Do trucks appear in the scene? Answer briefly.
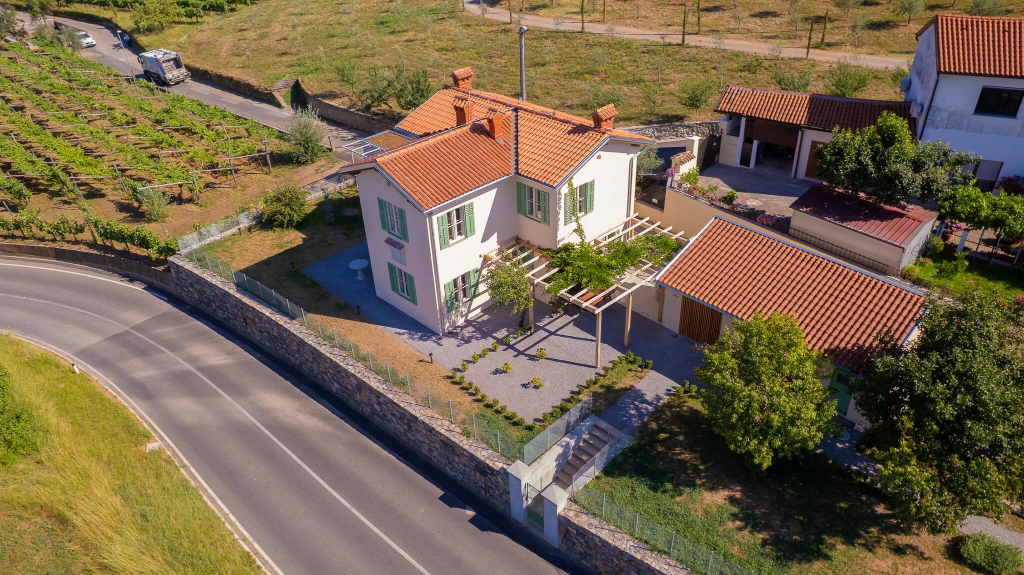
Yes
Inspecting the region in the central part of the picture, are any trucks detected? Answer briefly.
No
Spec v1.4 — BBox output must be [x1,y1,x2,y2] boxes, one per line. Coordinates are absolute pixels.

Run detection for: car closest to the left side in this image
[76,30,97,49]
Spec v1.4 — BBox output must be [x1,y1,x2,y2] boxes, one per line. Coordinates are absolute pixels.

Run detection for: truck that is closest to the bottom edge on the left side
[135,46,186,83]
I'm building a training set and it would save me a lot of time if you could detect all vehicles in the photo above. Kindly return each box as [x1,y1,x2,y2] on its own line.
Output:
[135,46,186,83]
[76,30,97,49]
